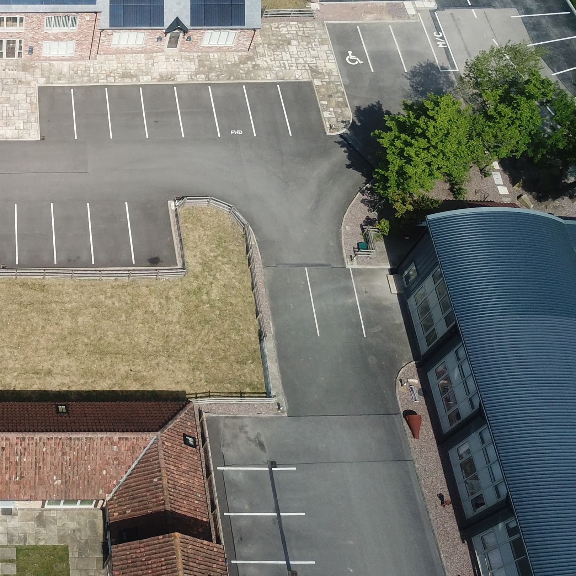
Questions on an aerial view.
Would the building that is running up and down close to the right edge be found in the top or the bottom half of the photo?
bottom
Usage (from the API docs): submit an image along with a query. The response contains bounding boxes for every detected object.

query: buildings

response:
[0,400,229,576]
[0,0,260,61]
[407,207,576,576]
